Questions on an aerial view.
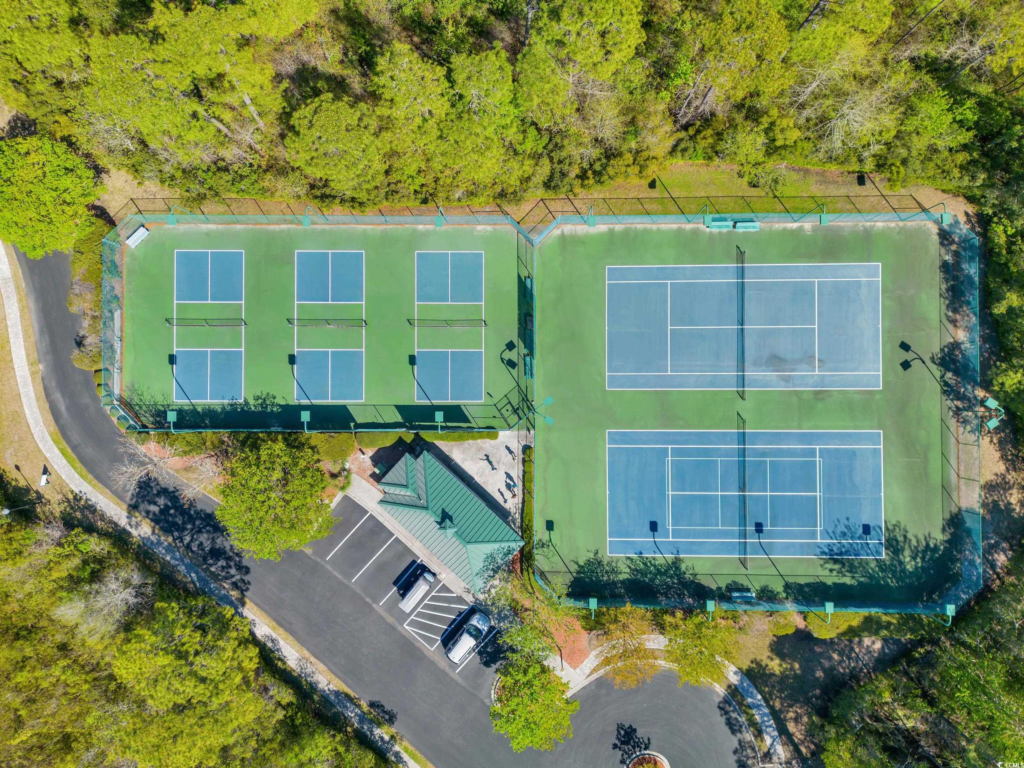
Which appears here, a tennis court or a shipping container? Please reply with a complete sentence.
It is a tennis court that can be seen here.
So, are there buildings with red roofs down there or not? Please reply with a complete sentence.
No, I can see no building with a red roof in this picture.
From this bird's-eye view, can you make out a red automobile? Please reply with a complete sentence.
No, the frame has no red automobile in it.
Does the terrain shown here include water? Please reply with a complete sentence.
No, no water is visible.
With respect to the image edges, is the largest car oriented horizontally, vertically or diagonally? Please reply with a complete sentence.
In this picture, the largest car is oriented diagonally.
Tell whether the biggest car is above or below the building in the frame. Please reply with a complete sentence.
The biggest car appears below the building in the picture.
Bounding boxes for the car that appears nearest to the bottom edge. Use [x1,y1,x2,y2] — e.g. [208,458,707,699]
[445,610,491,665]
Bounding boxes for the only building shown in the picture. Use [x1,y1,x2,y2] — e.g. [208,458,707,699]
[377,450,524,593]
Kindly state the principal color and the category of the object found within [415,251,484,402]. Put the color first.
blue sports court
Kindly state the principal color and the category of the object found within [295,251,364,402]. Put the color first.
blue sports court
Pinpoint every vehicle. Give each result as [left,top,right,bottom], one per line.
[397,570,435,613]
[445,610,491,665]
